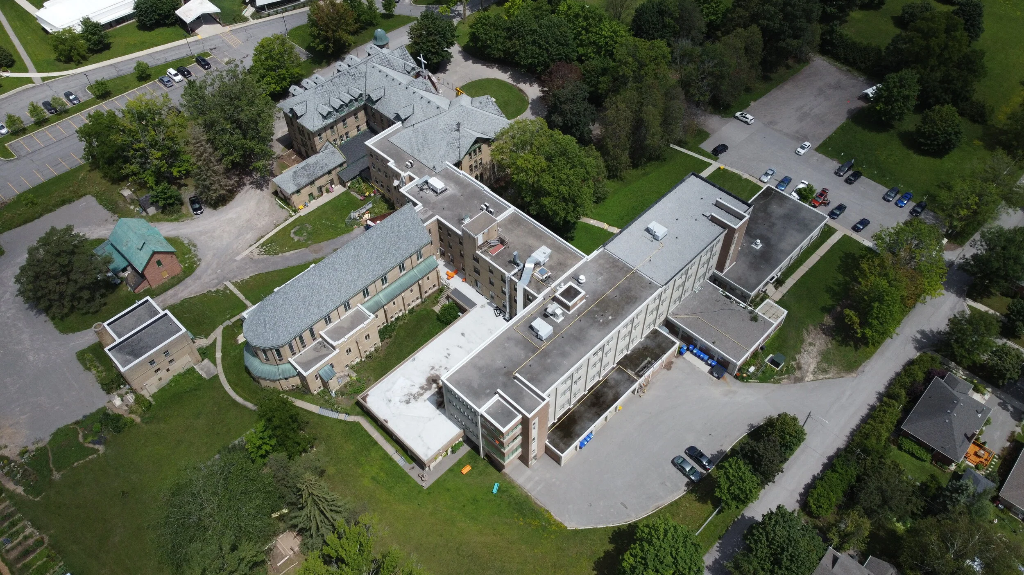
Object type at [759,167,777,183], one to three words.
car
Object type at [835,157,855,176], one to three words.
car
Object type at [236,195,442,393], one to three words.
church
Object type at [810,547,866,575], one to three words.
house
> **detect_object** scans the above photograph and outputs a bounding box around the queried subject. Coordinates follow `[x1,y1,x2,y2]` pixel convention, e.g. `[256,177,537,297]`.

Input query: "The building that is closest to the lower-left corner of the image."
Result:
[103,297,213,395]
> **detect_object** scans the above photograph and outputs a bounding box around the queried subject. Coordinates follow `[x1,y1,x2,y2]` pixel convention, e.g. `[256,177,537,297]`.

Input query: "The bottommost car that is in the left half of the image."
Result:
[190,196,202,214]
